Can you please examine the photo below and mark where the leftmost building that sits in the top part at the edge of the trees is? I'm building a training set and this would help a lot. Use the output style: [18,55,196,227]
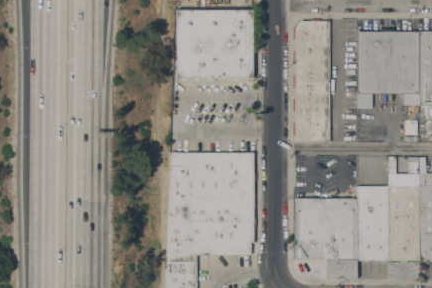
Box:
[176,9,254,79]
